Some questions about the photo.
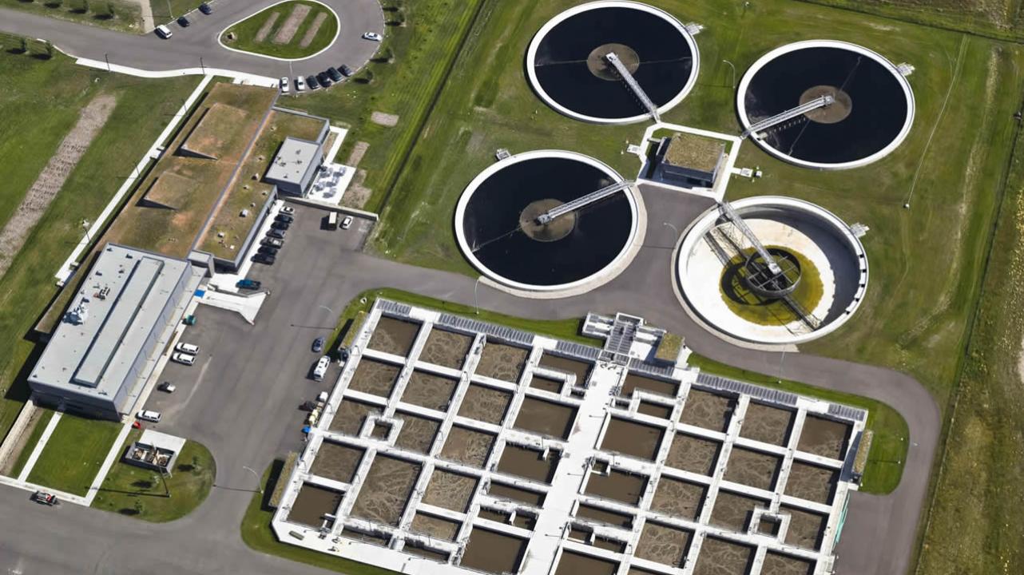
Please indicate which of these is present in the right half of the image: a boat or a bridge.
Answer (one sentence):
There is a bridge in the right half of the image.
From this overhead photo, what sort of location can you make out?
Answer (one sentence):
What you see here is an industrial area.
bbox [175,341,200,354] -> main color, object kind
white vehicle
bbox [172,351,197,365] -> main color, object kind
white car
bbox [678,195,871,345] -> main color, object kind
white storage tank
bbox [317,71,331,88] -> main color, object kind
black car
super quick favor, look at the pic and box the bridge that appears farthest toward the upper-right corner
[741,97,822,137]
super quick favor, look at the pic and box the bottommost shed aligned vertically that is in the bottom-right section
[853,434,872,480]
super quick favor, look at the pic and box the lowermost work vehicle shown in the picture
[37,490,60,506]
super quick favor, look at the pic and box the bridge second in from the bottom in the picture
[551,176,639,219]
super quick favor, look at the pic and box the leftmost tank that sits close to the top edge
[527,2,704,125]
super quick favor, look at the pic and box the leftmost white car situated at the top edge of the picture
[154,23,174,38]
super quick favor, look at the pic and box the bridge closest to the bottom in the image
[716,198,773,263]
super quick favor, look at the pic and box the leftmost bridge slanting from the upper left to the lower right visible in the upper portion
[611,58,661,124]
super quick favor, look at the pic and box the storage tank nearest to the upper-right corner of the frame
[736,40,915,170]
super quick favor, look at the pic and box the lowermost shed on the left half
[269,452,302,511]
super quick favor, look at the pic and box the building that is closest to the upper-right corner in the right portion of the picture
[664,133,725,187]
